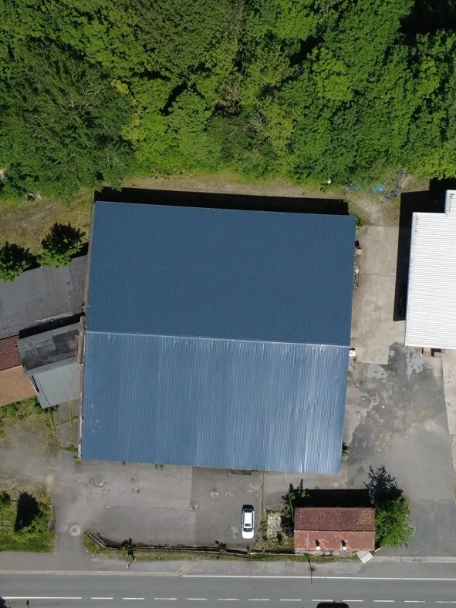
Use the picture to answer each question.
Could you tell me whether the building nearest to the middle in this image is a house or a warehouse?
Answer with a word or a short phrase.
warehouse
